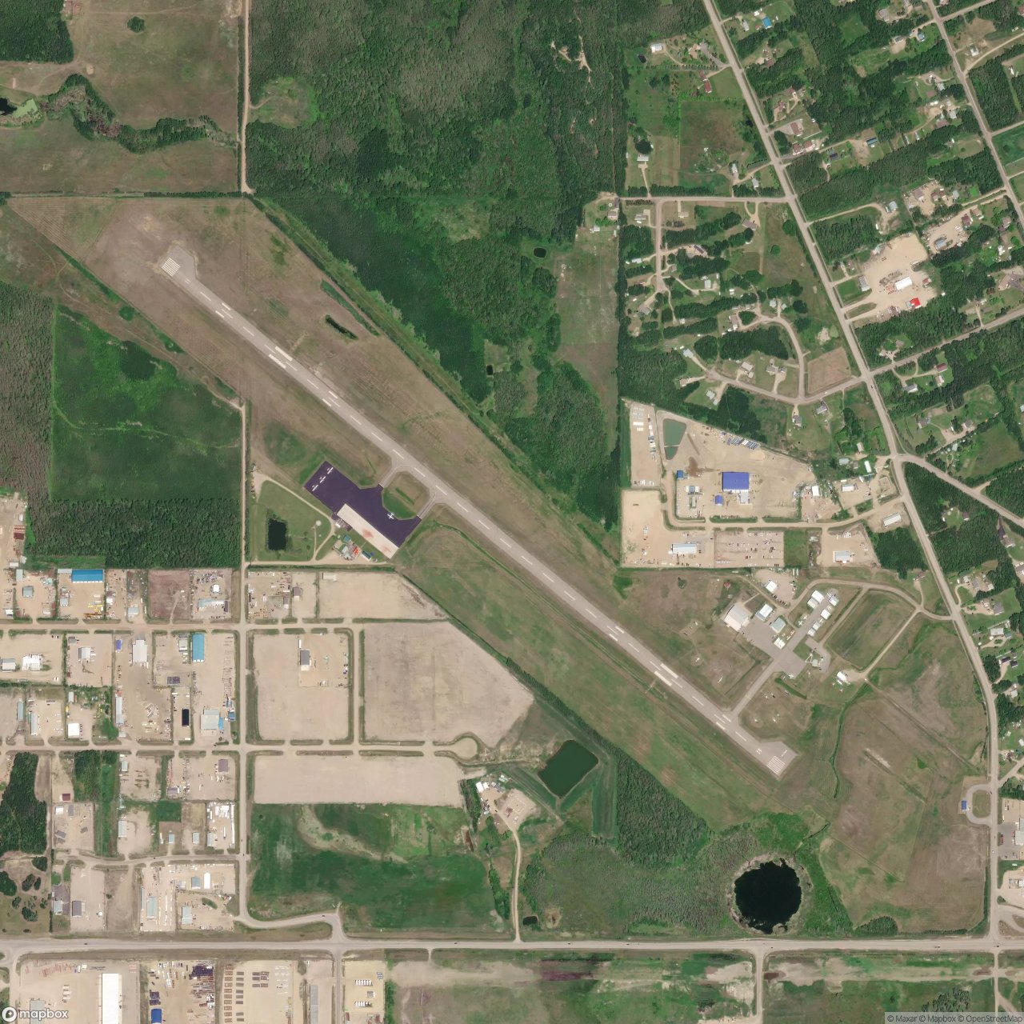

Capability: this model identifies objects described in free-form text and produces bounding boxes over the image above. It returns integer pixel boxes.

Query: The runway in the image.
[161,257,787,777]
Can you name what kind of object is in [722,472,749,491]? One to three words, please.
building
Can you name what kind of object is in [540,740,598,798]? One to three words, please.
pond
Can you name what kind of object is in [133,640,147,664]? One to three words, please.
building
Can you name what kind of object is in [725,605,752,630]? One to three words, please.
hangar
